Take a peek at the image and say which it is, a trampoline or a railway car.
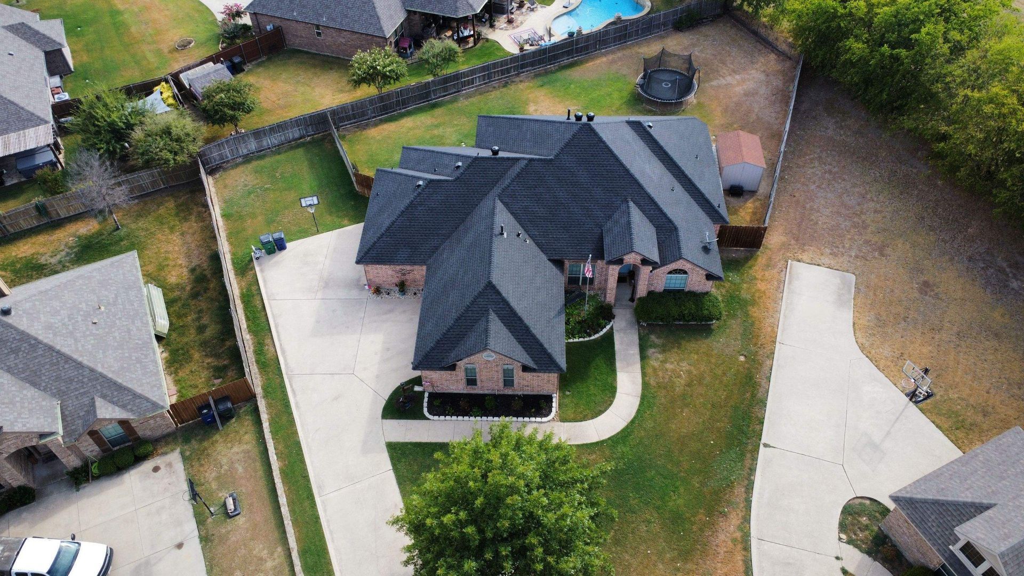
trampoline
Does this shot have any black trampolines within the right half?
Yes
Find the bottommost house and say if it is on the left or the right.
right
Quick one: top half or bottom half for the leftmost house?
top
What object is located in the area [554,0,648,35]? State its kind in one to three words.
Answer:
swimming pool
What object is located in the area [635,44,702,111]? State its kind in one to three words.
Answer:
trampoline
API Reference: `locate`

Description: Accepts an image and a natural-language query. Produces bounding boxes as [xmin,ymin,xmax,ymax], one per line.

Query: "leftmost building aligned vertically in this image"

[0,3,83,199]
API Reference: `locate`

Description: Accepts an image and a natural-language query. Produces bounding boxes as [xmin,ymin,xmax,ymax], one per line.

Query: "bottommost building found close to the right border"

[877,430,1024,576]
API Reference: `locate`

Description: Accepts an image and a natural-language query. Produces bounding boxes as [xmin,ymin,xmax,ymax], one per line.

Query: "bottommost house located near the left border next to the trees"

[0,246,175,486]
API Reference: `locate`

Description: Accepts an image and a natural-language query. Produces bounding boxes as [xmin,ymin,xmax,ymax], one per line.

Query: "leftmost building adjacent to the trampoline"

[354,110,728,411]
